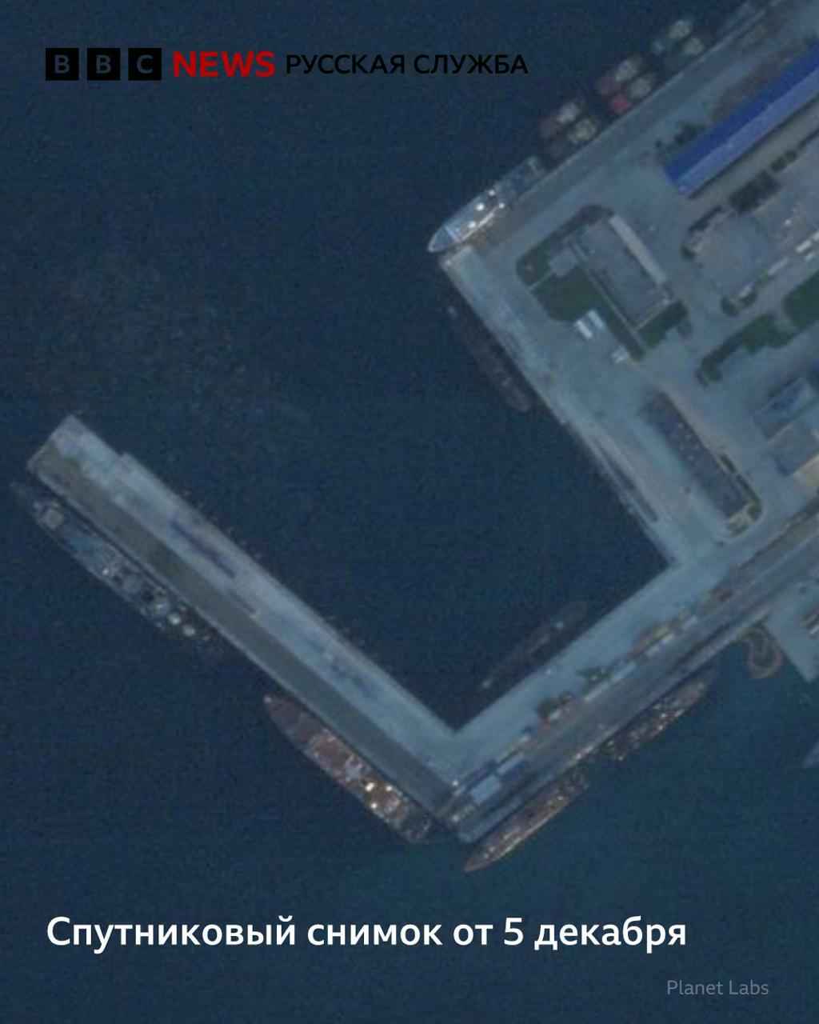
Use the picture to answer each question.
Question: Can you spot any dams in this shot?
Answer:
No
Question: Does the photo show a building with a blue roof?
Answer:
Yes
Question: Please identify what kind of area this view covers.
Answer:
port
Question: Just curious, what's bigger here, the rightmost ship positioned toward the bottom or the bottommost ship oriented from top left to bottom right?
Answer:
the bottommost ship oriented from top left to bottom right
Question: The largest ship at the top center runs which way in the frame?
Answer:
diagonally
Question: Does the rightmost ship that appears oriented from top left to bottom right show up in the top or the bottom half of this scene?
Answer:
top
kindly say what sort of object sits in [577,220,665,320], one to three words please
building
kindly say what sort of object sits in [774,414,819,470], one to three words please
shed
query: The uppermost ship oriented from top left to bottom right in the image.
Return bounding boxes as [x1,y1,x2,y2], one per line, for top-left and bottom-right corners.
[459,305,528,411]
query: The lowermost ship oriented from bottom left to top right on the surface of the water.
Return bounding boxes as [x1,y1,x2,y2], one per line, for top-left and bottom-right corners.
[466,765,596,870]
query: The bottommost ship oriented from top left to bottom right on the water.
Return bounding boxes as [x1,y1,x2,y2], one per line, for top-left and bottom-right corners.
[264,695,441,851]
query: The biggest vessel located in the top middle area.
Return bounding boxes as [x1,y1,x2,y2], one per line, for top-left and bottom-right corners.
[428,154,550,251]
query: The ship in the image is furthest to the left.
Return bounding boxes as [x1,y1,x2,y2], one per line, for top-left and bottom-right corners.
[9,484,227,663]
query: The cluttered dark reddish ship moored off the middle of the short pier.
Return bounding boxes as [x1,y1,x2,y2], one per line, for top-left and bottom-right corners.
[603,670,718,764]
